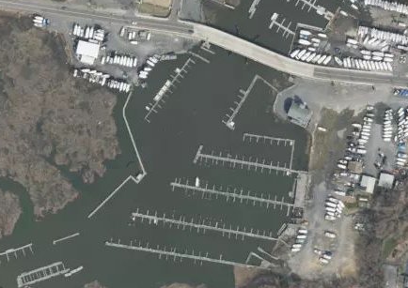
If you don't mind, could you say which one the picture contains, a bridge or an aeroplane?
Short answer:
bridge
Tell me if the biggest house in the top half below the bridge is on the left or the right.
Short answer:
right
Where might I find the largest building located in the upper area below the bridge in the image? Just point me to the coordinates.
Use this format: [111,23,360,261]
[287,102,312,126]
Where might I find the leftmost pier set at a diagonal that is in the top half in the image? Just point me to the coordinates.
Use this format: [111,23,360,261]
[145,43,214,123]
